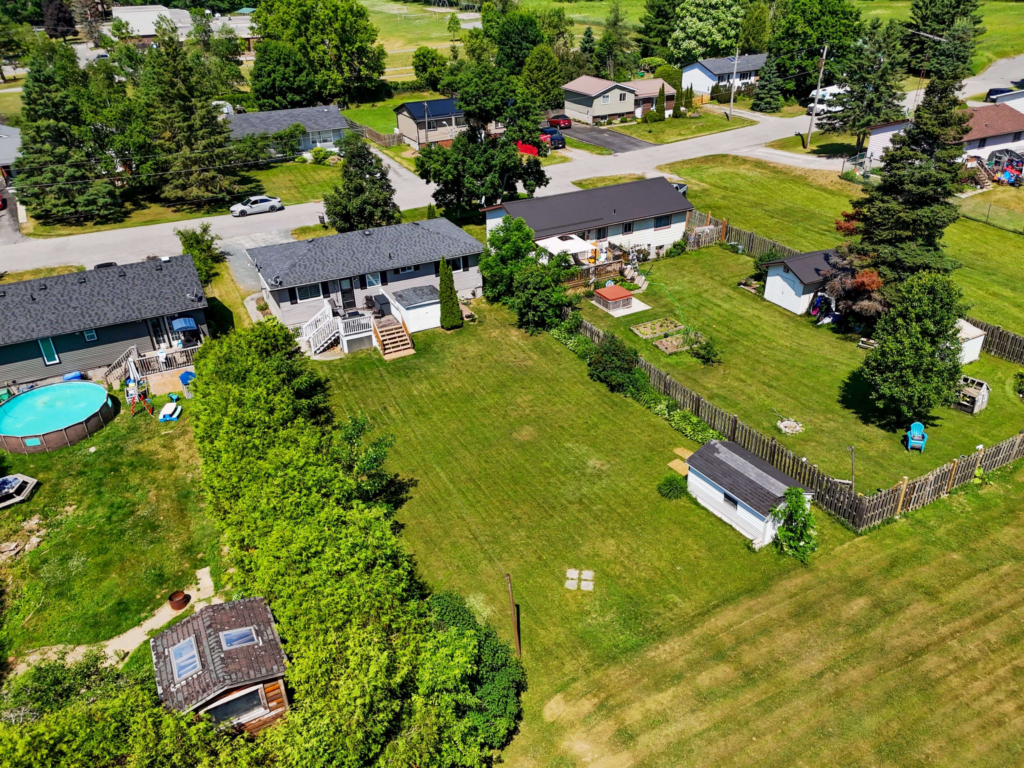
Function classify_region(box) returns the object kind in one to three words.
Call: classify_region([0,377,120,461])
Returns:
swimming pool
